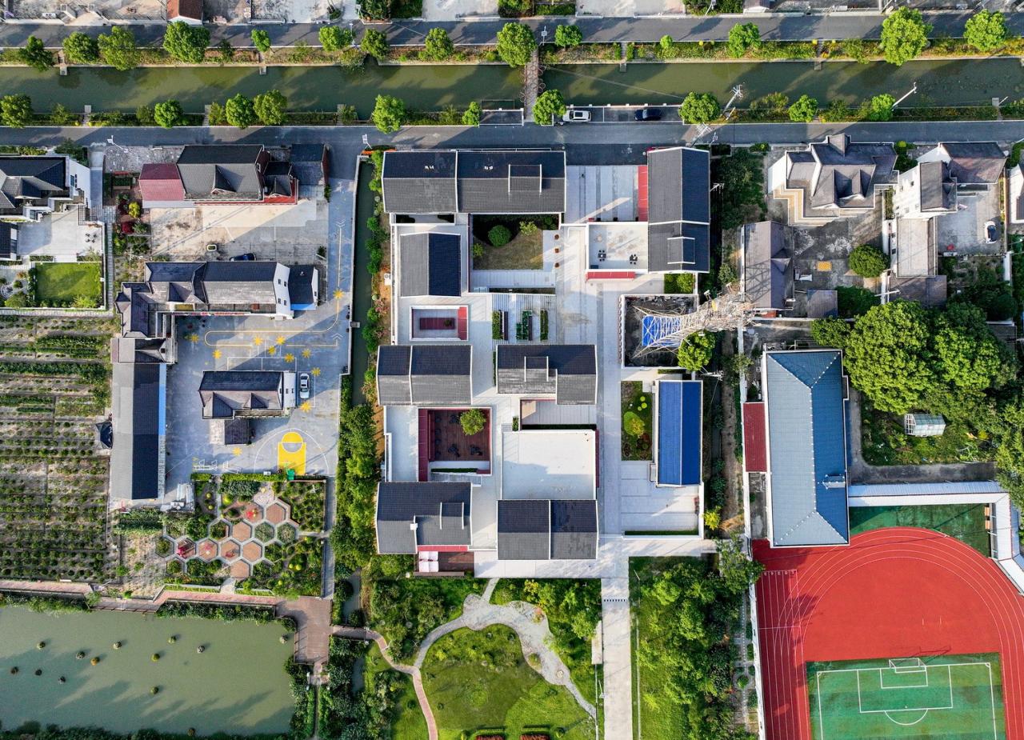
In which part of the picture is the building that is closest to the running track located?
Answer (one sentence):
You can find the building that is closest to the running track in the right area of the picture.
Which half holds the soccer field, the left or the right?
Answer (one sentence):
You can find the soccer field on the right side of the picture.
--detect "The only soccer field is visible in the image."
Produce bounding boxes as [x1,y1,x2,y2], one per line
[807,653,1008,740]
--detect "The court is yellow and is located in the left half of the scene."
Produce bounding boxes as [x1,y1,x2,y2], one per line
[278,432,306,475]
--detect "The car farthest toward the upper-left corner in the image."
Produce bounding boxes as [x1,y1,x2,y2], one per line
[229,250,258,262]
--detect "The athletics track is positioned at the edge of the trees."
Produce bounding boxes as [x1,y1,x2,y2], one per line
[752,526,1024,740]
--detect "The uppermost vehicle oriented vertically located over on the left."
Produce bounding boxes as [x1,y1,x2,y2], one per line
[297,372,311,400]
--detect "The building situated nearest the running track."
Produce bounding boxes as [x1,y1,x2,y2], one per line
[758,348,851,548]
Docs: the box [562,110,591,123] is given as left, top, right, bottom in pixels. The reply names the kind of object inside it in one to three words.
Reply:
vehicle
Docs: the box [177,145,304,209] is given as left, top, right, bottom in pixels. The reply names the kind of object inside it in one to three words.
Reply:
house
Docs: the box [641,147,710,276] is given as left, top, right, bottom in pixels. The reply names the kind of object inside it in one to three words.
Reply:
building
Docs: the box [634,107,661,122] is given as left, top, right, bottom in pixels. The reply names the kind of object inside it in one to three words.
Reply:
car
